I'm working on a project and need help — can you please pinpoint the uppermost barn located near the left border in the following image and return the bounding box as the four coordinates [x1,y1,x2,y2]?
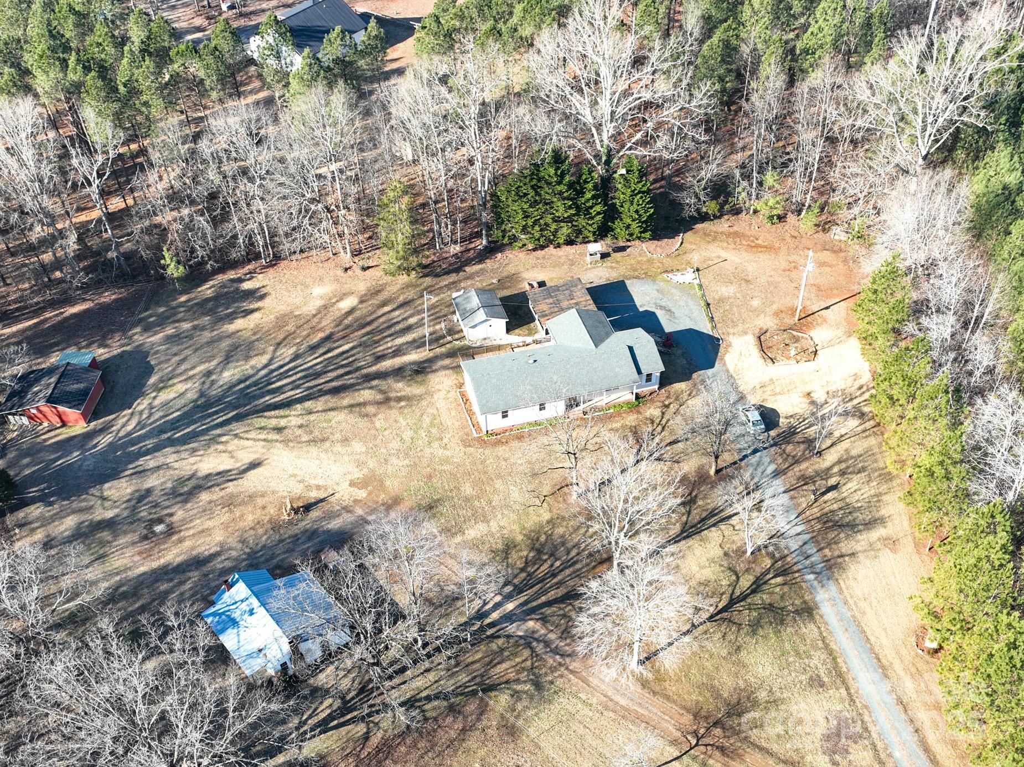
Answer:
[0,352,103,426]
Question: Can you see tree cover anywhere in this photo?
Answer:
Yes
